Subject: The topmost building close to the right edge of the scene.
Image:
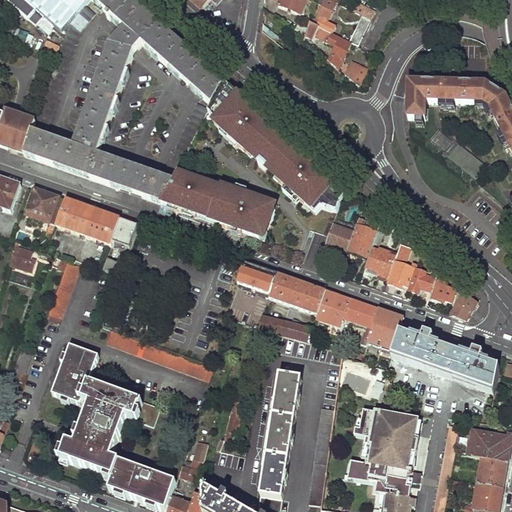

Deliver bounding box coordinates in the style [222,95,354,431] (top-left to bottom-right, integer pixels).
[406,76,512,150]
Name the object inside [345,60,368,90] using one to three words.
house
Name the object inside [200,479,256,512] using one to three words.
building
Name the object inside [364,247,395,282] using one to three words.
house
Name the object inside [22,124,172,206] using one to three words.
building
